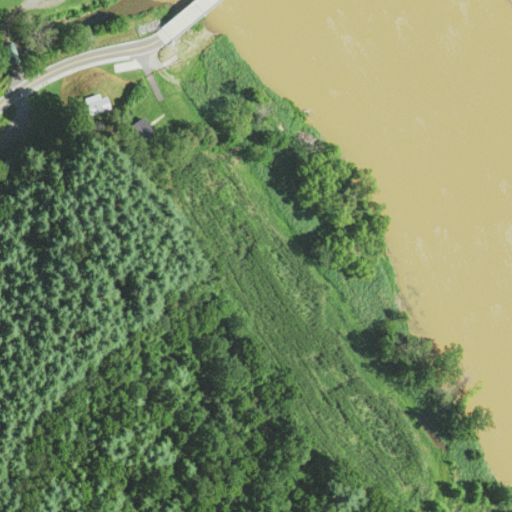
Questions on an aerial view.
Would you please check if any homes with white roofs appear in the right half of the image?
No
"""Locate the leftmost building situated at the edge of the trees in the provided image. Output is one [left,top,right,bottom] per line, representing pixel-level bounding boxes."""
[82,93,112,118]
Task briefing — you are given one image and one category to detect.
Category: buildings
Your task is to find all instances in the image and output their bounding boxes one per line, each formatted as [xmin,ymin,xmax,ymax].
[134,116,154,136]
[82,93,112,118]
